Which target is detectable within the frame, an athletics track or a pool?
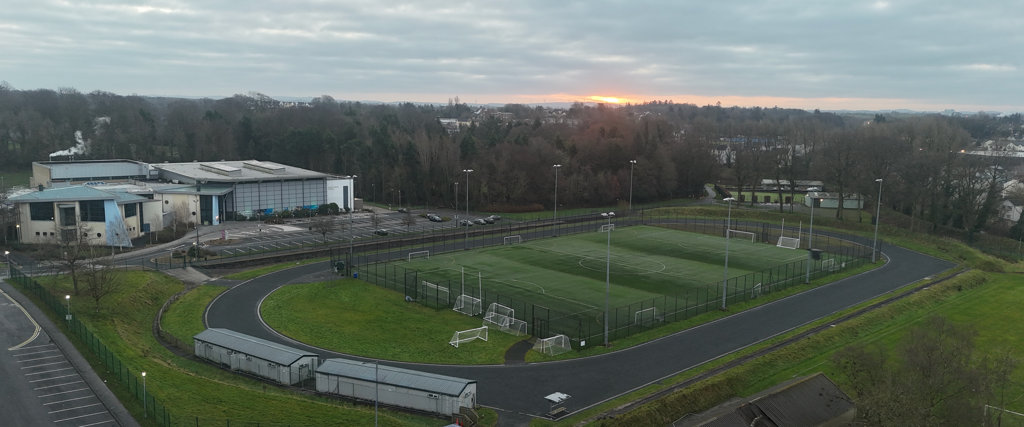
athletics track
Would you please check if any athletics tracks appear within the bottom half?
Yes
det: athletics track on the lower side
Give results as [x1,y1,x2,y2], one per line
[206,219,956,420]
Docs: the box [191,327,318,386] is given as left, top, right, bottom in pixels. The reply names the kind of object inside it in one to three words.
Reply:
shed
